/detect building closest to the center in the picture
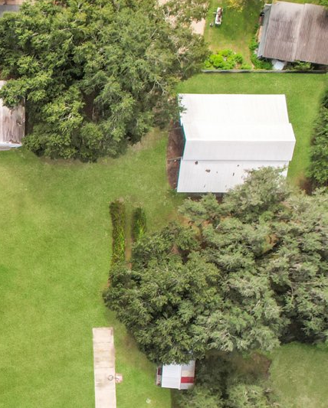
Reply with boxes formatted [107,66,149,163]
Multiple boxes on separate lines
[168,95,296,193]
